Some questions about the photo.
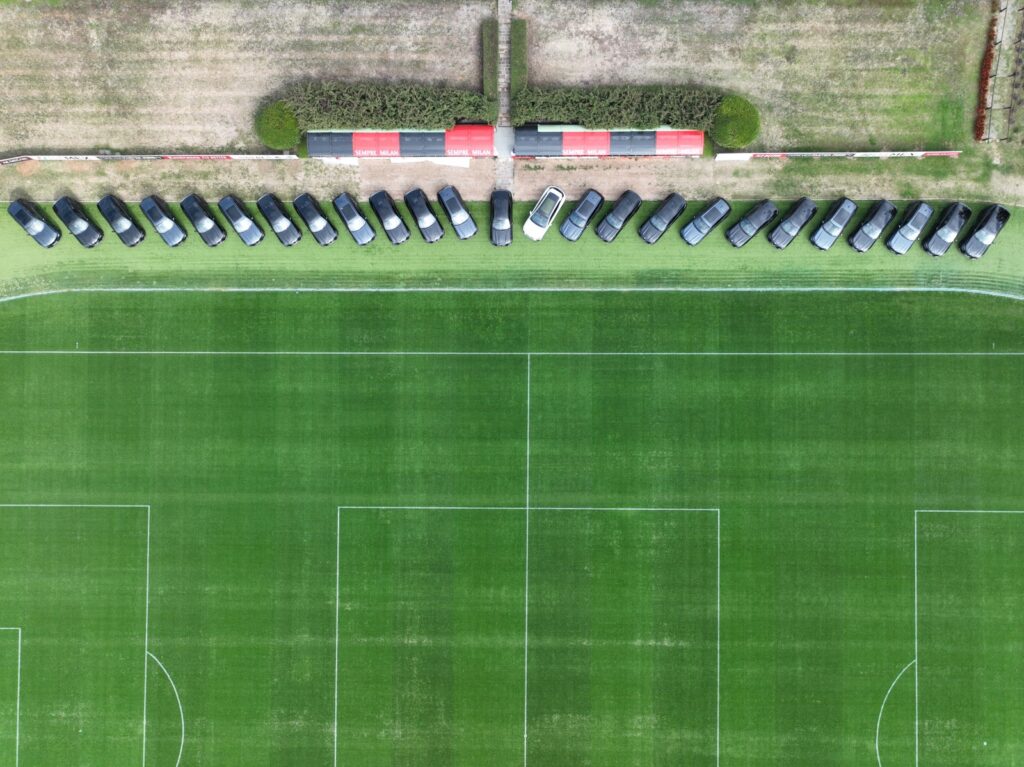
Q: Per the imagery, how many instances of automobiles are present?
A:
25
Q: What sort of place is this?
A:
sports ground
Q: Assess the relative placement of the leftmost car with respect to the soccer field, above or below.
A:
above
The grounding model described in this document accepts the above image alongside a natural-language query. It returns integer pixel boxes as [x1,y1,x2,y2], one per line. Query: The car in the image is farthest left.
[8,198,60,249]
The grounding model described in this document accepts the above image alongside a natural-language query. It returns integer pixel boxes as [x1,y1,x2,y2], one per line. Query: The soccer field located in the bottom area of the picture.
[0,287,1024,767]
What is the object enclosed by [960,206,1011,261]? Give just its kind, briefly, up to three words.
car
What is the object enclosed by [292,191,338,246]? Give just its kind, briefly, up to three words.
car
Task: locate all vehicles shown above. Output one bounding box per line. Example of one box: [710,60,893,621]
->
[639,192,688,245]
[489,190,514,246]
[403,186,444,243]
[596,189,643,243]
[368,189,410,245]
[810,196,859,251]
[848,198,898,253]
[255,192,302,247]
[52,195,103,248]
[8,198,60,249]
[768,198,819,251]
[436,183,477,240]
[138,194,187,247]
[97,193,146,247]
[960,206,1011,261]
[523,186,566,243]
[726,198,779,249]
[292,191,338,246]
[217,192,265,246]
[179,192,226,247]
[922,202,972,258]
[559,187,604,243]
[331,190,375,245]
[681,197,733,248]
[886,201,936,256]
